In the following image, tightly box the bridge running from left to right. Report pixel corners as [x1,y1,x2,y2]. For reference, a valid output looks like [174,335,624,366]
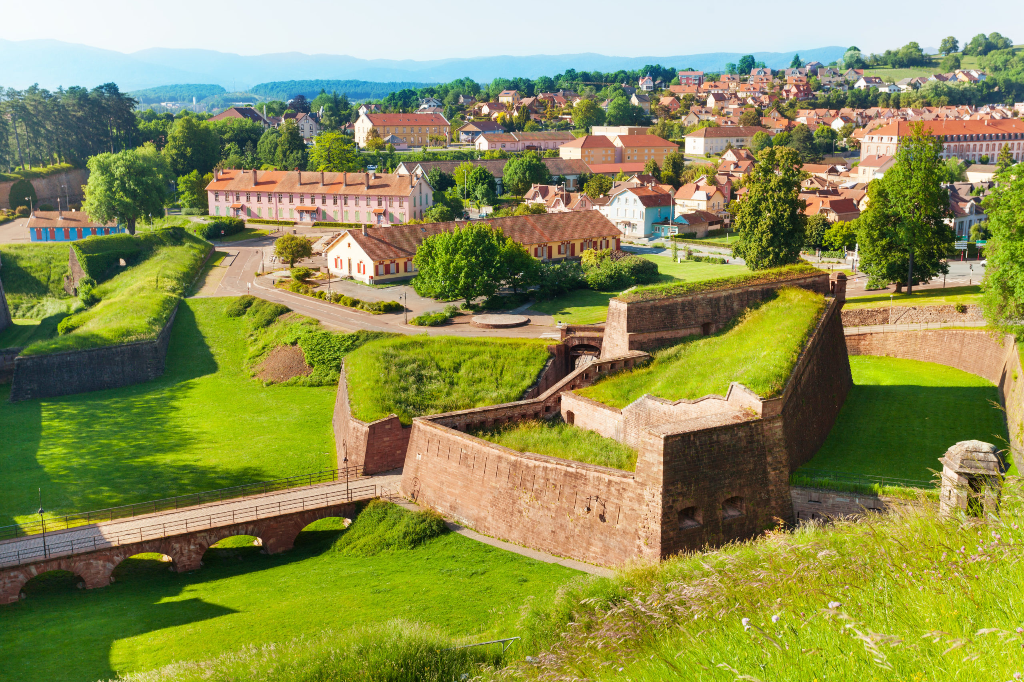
[0,479,395,607]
